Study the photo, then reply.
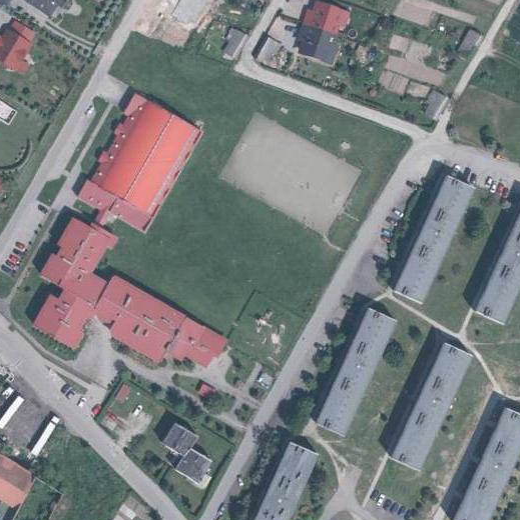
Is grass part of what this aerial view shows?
Yes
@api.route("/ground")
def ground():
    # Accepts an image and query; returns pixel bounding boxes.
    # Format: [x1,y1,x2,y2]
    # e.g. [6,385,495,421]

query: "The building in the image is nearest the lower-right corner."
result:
[452,409,520,520]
